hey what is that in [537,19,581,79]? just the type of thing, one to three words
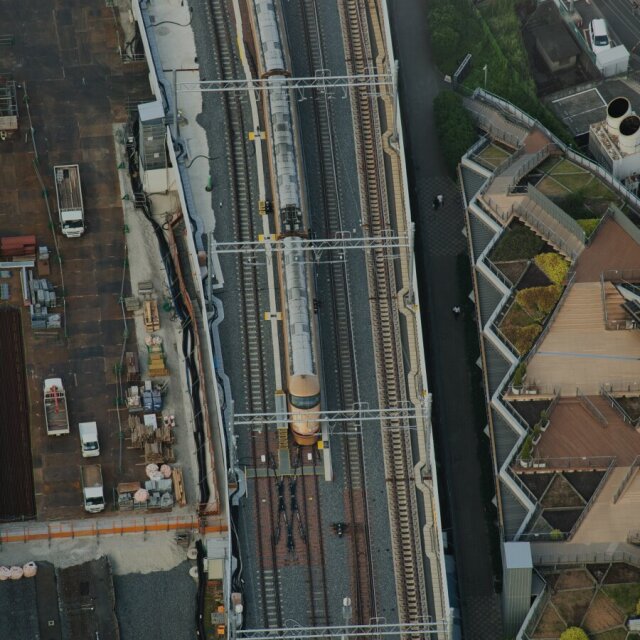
shed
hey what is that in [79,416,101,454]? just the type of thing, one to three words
truck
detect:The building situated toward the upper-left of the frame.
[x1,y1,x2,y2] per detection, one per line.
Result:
[138,91,169,161]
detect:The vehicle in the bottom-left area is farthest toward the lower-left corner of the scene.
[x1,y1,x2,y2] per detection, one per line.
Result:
[81,462,106,510]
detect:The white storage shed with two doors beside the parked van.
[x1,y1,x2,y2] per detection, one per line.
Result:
[596,45,629,82]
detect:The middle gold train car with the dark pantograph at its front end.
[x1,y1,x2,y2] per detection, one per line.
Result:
[257,69,308,259]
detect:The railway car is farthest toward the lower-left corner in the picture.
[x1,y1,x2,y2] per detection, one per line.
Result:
[277,232,319,445]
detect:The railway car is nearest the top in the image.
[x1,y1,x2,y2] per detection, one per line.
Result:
[245,0,286,96]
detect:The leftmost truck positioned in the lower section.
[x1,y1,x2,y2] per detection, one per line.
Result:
[42,374,68,431]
